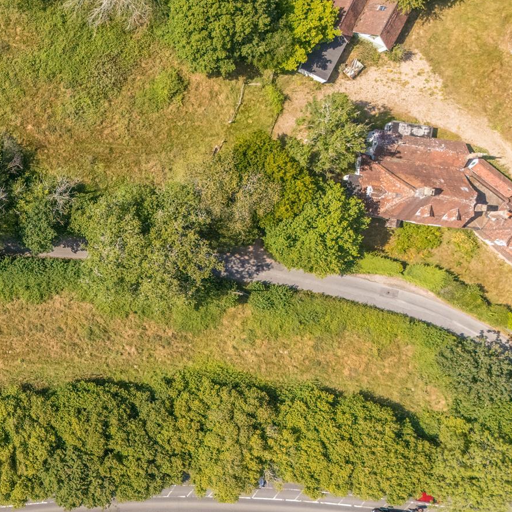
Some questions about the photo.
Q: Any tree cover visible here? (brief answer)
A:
Yes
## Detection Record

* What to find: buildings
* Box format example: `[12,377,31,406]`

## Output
[350,0,414,51]
[291,30,348,84]
[340,133,504,229]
